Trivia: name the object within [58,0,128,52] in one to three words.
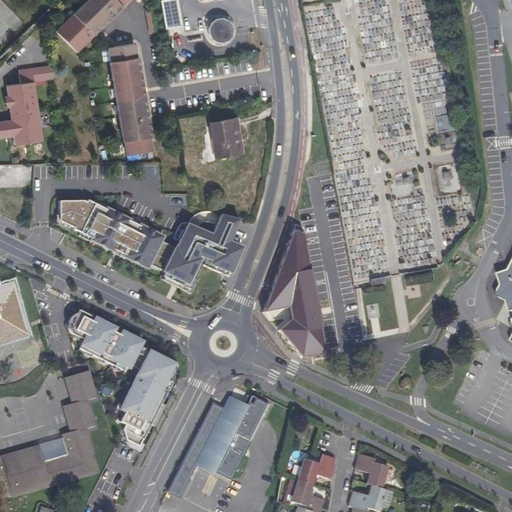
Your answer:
house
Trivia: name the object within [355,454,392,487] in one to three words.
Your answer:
house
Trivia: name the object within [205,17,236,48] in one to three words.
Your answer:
building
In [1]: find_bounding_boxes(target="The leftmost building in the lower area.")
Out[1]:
[0,277,35,347]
